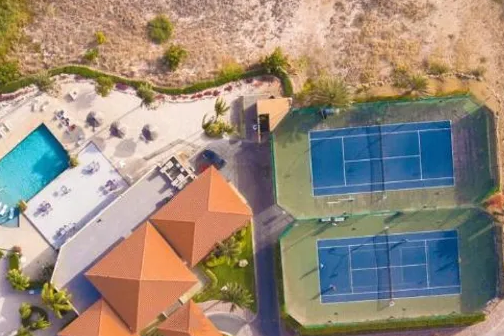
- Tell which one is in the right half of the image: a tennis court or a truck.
tennis court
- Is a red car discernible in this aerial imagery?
No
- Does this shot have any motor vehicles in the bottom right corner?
No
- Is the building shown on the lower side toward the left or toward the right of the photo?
left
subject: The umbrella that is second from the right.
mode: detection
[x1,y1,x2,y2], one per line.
[107,122,125,139]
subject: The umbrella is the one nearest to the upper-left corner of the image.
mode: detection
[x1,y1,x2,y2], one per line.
[86,111,104,129]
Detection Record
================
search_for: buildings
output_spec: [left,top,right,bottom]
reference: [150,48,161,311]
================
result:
[255,98,290,144]
[50,154,252,336]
